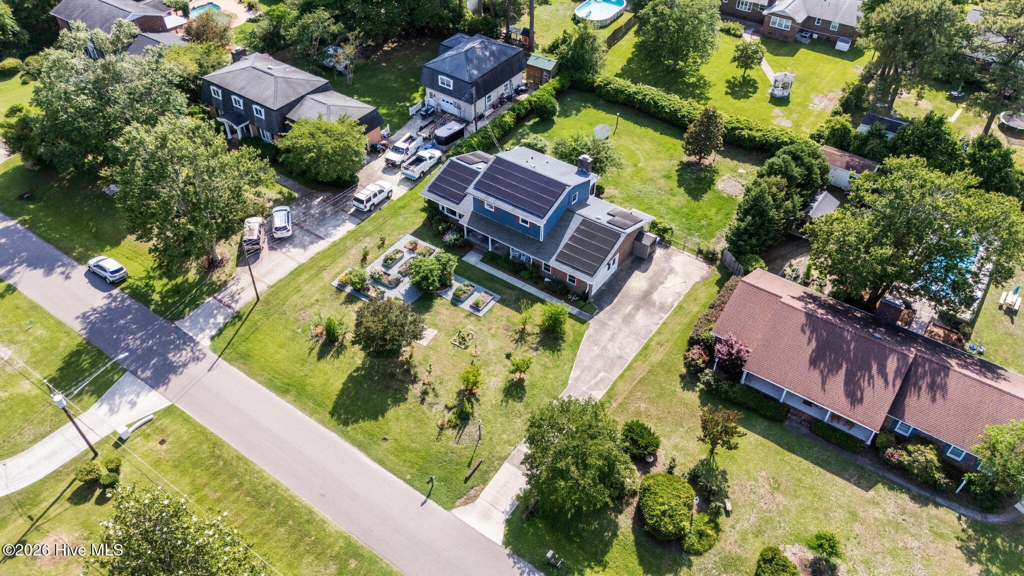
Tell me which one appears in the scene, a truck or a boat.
truck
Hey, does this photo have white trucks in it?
Yes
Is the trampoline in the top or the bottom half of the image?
top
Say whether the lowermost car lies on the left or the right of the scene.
left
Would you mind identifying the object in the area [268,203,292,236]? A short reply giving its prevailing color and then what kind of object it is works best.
white car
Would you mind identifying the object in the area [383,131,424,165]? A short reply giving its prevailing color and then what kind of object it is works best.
white truck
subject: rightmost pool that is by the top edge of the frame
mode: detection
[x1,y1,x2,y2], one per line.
[573,0,625,26]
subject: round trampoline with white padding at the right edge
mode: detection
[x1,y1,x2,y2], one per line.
[996,111,1024,132]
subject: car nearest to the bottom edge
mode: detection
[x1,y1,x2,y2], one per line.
[84,252,127,283]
